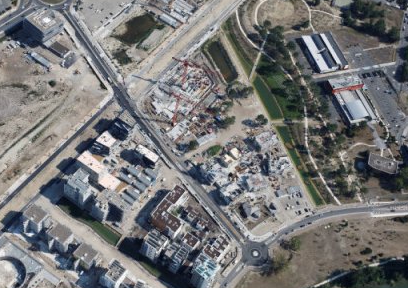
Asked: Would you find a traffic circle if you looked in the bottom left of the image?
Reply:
No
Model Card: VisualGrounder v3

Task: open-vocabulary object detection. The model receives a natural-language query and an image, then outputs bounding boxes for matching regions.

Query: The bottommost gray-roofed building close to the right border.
[367,153,398,178]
